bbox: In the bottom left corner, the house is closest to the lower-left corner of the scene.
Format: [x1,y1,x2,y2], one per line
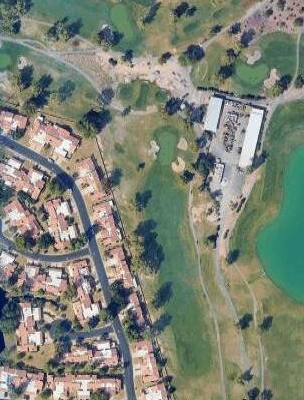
[0,364,46,398]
